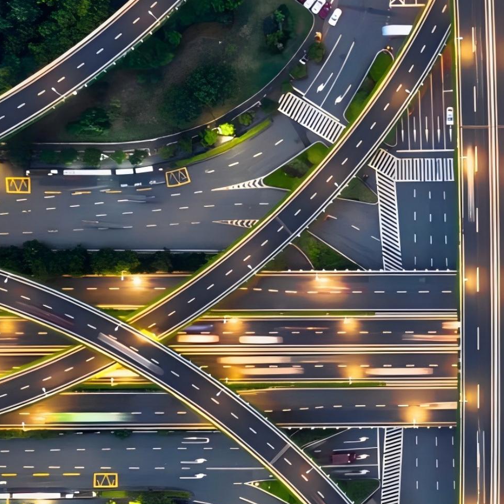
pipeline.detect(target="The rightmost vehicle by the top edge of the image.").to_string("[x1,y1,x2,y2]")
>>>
[380,22,410,37]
